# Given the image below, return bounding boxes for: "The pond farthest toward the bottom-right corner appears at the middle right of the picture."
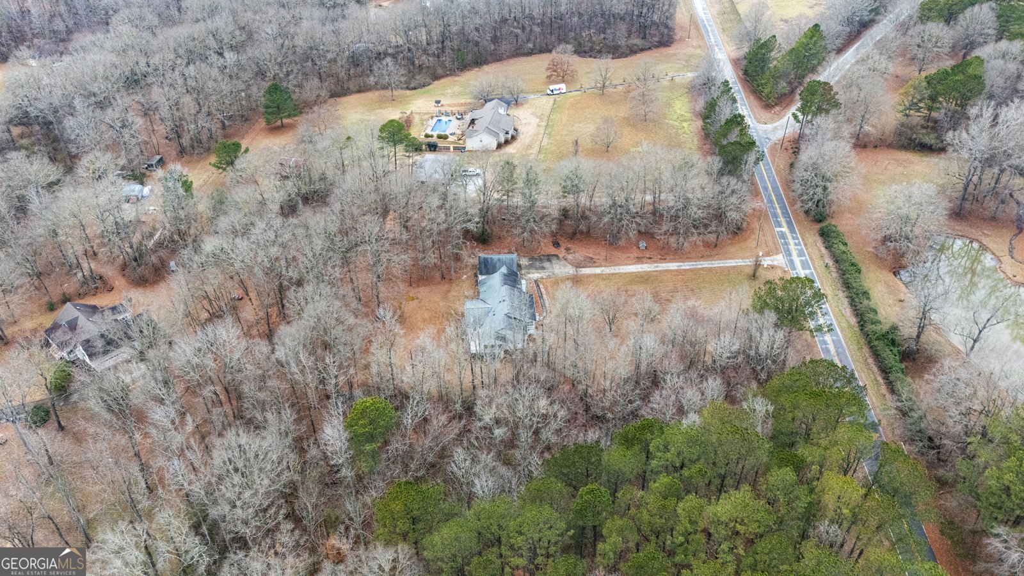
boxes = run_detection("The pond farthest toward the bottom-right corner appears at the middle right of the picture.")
[897,239,1024,391]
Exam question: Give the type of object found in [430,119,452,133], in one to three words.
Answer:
swimming pool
